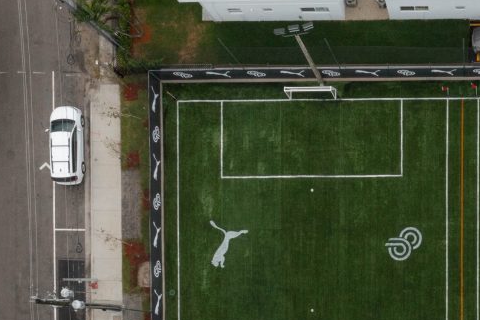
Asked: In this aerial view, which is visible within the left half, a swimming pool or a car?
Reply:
car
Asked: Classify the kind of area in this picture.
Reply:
sports ground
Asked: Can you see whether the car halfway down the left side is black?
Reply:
No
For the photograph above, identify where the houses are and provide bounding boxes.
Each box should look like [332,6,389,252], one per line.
[383,0,480,20]
[177,0,344,20]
